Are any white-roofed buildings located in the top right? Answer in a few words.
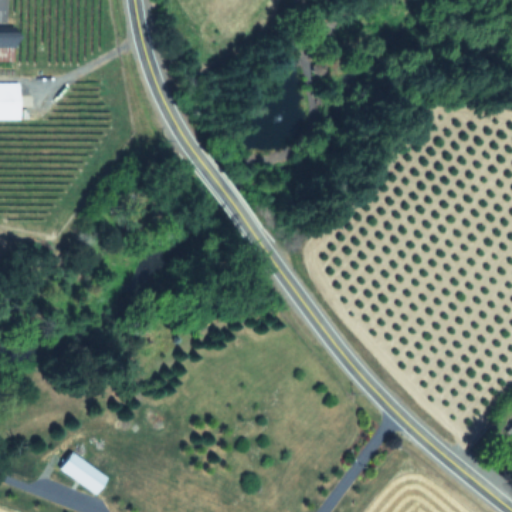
No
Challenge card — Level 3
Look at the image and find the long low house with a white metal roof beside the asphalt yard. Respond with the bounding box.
[60,452,108,496]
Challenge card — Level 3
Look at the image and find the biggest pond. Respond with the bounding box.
[240,80,306,149]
